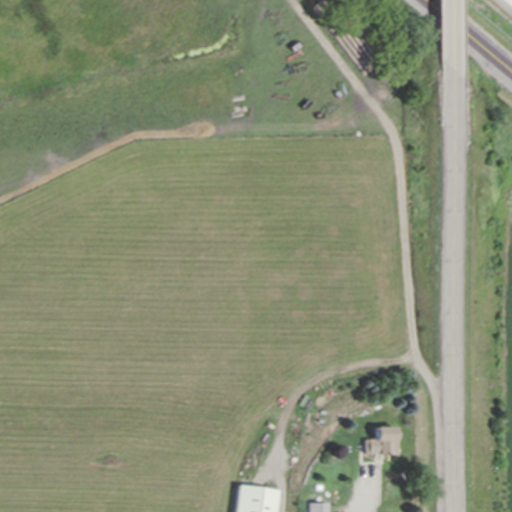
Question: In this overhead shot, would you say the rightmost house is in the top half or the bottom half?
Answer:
bottom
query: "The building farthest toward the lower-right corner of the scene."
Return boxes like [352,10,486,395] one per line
[366,428,404,456]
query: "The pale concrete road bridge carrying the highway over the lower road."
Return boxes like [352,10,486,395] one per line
[444,0,470,76]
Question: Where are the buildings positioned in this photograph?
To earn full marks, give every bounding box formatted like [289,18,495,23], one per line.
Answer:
[308,503,330,512]
[366,428,404,456]
[238,486,283,512]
